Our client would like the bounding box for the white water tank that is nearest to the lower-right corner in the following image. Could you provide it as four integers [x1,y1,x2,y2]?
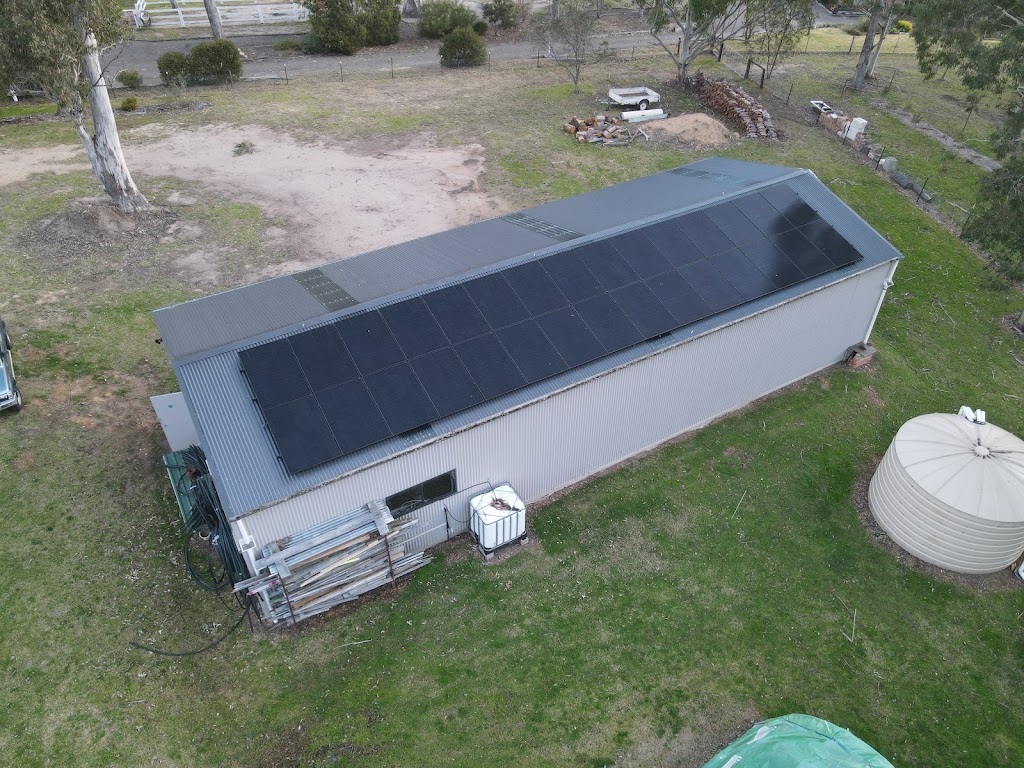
[871,406,1024,576]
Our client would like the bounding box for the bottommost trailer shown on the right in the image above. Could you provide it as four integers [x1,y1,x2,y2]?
[592,86,658,111]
